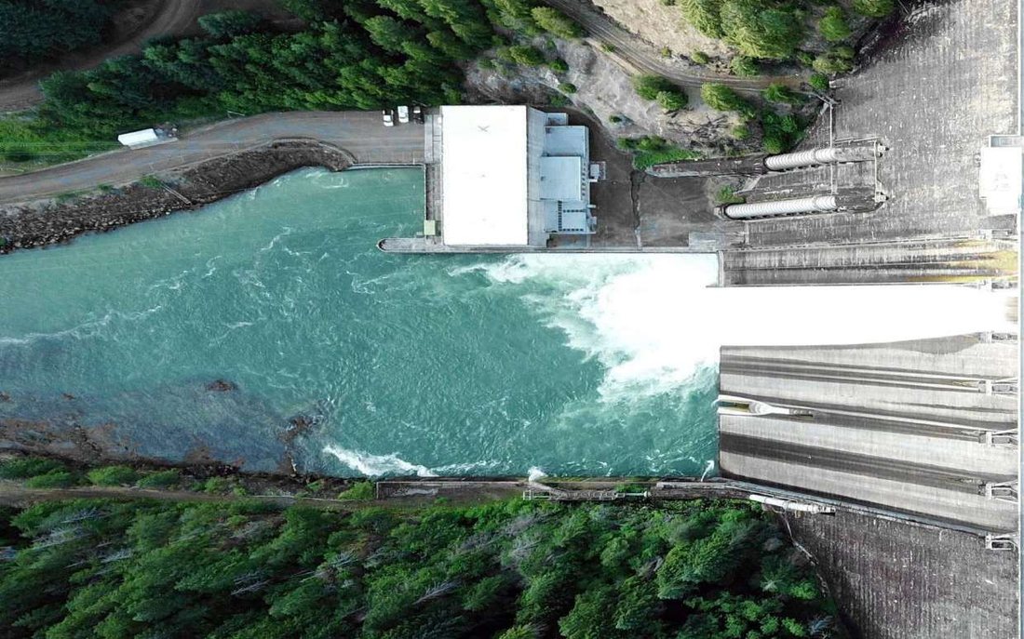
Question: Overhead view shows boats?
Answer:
No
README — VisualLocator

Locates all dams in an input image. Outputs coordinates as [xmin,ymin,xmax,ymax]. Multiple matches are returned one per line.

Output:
[704,0,1024,639]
